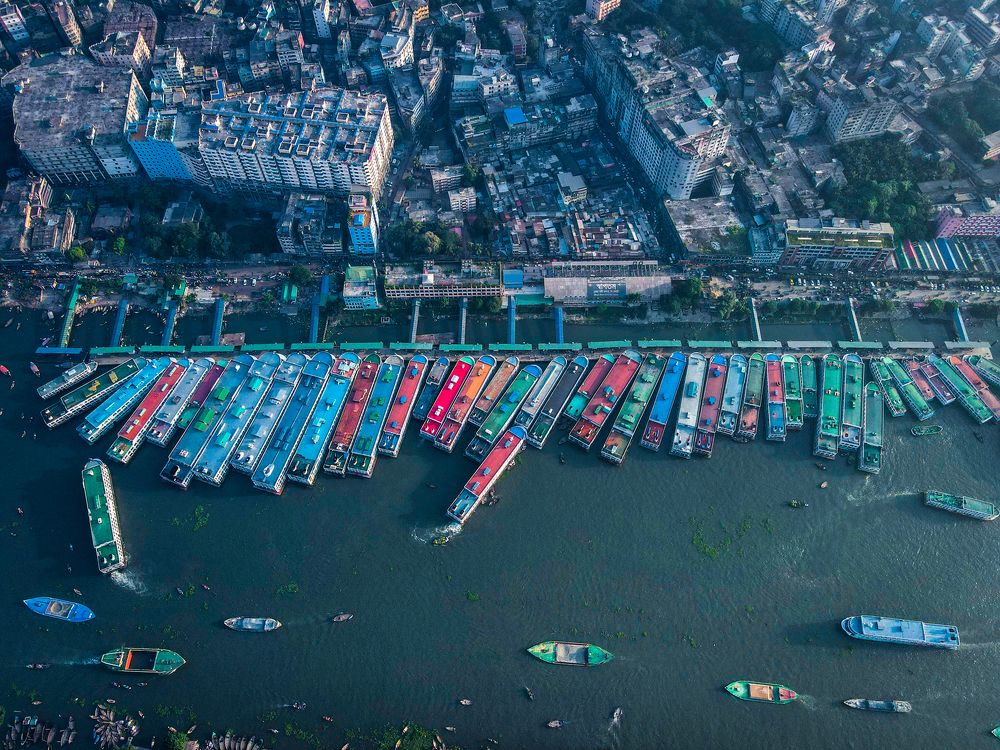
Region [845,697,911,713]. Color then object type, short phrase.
blue boat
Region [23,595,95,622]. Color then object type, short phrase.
blue boat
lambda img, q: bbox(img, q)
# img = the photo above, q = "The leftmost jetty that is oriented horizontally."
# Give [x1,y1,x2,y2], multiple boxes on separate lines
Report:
[30,346,90,367]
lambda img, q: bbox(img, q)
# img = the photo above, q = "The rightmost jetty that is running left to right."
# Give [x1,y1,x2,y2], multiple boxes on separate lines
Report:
[937,341,996,362]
